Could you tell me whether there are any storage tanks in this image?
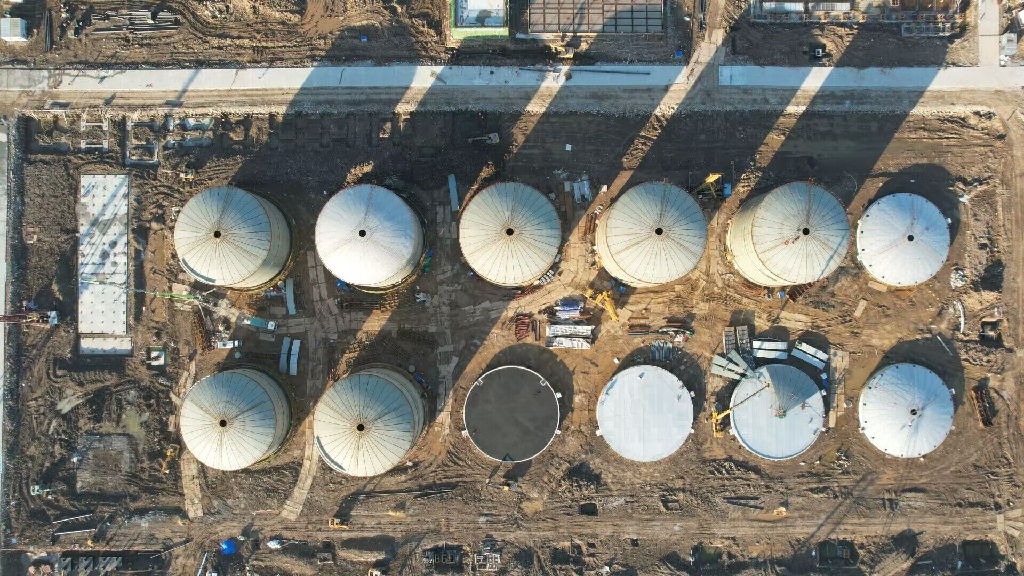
Yes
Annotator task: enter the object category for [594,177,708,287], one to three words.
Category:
storage tank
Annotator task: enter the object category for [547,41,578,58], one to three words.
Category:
work vehicle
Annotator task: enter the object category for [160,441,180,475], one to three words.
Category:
work vehicle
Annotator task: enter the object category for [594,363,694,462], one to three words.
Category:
storage tank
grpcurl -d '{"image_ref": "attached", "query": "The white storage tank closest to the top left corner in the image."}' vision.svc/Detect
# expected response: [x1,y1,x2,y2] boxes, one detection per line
[173,183,295,288]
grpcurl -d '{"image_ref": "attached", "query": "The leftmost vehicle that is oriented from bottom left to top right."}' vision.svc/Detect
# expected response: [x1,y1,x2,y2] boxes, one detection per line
[81,534,103,550]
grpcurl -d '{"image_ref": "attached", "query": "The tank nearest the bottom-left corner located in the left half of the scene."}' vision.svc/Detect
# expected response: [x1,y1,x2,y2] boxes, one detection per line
[179,363,299,470]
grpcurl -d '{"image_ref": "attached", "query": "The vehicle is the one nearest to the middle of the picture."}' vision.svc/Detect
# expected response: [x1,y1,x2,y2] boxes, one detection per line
[468,131,501,144]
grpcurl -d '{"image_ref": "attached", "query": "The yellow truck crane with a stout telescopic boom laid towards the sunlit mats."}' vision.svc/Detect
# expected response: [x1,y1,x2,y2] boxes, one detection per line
[585,283,620,322]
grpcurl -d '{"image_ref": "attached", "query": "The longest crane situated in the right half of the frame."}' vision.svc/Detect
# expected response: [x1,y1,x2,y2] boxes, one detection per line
[710,381,770,441]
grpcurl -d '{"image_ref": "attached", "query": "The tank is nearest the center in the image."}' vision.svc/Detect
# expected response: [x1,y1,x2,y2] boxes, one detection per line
[459,178,562,288]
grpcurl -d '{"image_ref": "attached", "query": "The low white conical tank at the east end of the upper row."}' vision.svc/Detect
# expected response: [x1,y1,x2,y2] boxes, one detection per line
[854,193,953,287]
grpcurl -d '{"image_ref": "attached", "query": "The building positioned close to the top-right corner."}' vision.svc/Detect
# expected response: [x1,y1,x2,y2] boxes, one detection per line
[999,30,1022,55]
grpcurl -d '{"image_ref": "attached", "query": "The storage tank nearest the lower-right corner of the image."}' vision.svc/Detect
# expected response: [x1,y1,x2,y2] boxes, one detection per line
[856,362,957,457]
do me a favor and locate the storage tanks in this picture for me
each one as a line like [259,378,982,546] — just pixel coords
[173,183,295,288]
[463,363,561,462]
[459,178,562,288]
[314,180,427,289]
[594,363,694,462]
[313,363,427,477]
[594,177,708,287]
[179,363,299,470]
[725,362,826,460]
[723,177,852,287]
[856,362,957,457]
[854,193,953,287]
